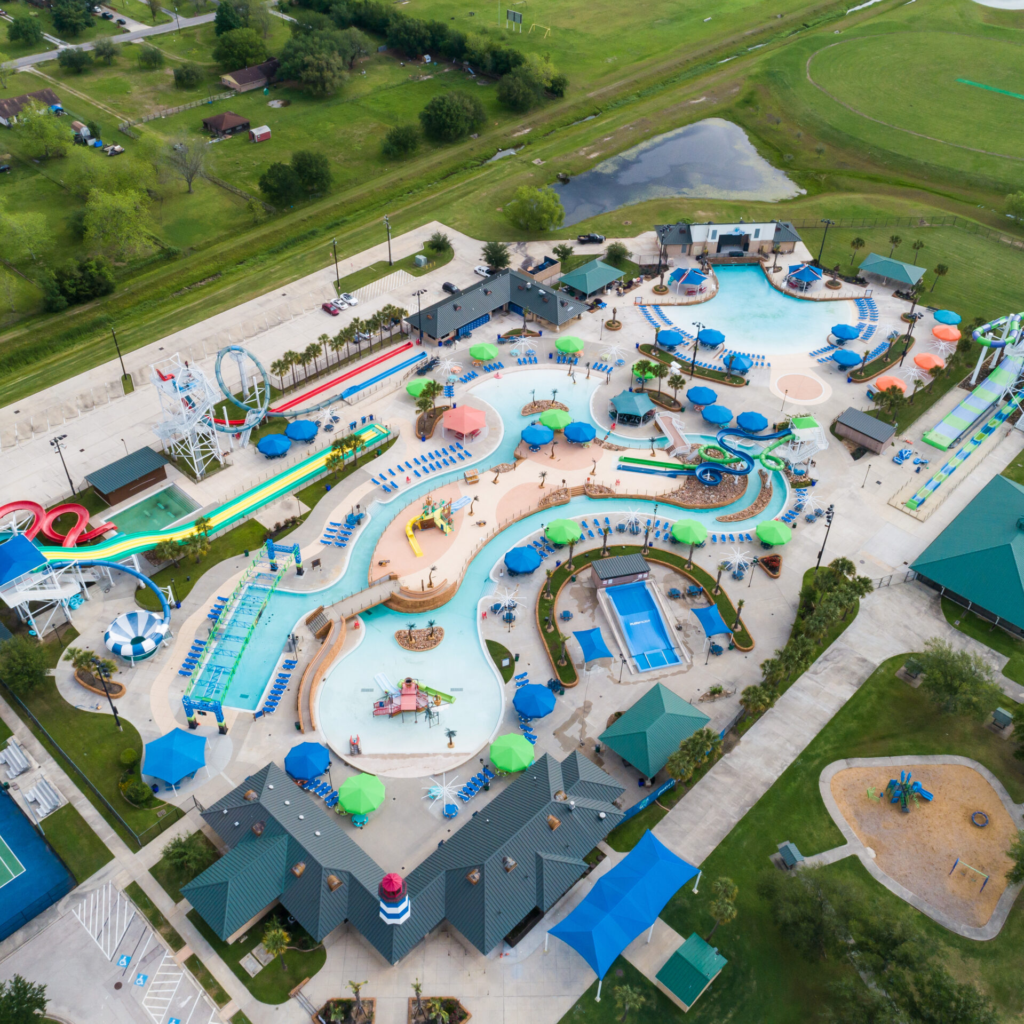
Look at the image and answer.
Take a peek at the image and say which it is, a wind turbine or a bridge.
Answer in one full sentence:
Looking from above, you can make out a bridge.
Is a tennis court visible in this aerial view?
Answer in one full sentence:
Yes, there's a tennis court here.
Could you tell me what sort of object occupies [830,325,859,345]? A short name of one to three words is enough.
umbrella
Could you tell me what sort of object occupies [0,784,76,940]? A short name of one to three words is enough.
tennis court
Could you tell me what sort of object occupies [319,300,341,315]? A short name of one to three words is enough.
car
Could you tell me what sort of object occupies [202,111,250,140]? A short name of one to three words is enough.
house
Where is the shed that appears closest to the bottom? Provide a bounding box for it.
[655,933,728,1014]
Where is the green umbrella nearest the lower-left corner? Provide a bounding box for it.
[340,775,385,814]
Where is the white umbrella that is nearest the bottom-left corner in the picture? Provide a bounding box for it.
[420,771,468,812]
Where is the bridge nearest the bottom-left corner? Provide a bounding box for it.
[322,576,457,622]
